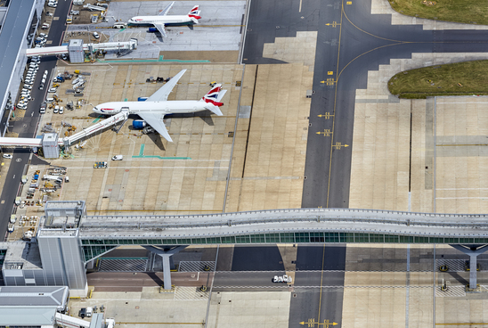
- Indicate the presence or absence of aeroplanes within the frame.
Yes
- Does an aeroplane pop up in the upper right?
No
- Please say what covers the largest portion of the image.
paved ground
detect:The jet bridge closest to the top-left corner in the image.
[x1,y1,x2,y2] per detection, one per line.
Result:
[88,38,139,60]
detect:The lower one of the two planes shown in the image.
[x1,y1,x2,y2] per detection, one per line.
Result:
[93,72,226,139]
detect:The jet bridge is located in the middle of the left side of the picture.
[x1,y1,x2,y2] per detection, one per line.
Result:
[63,107,134,156]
